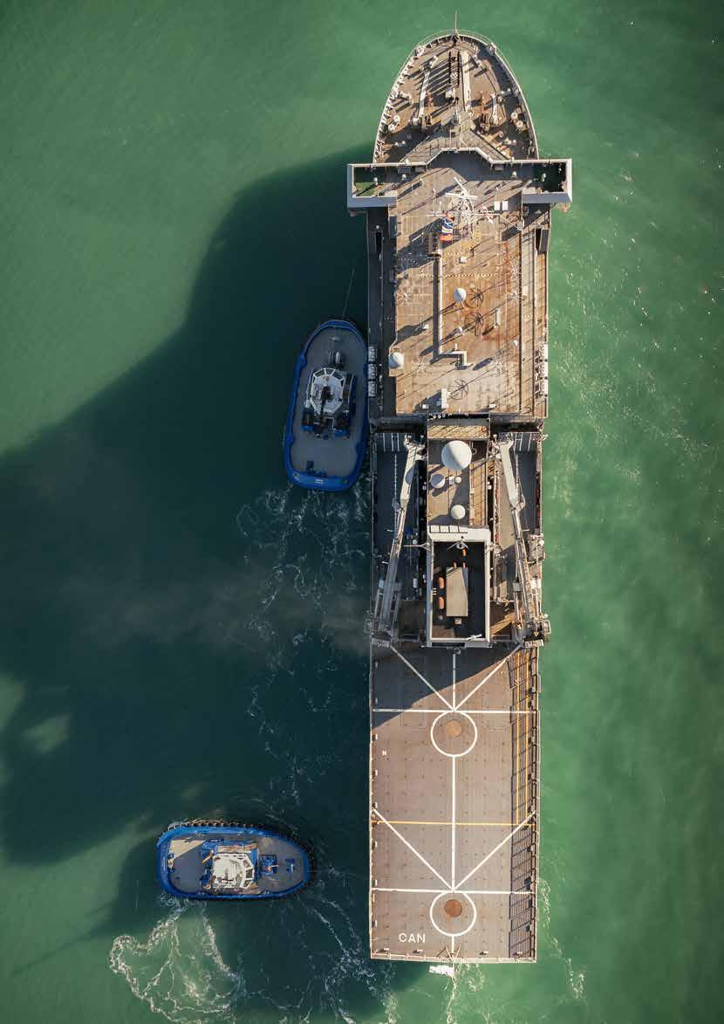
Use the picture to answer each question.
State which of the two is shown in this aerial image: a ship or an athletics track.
ship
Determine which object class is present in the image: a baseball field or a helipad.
helipad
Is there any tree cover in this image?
No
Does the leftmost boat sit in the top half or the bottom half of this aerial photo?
bottom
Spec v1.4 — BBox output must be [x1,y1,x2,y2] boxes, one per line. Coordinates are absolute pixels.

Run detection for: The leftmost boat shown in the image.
[158,815,314,901]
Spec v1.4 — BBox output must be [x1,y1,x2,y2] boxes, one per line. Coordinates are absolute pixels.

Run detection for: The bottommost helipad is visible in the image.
[372,809,534,952]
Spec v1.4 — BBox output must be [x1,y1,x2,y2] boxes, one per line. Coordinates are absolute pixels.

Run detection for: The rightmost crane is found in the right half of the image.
[489,430,557,650]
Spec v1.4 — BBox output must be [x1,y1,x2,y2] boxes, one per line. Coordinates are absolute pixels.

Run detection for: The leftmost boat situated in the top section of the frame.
[283,320,367,490]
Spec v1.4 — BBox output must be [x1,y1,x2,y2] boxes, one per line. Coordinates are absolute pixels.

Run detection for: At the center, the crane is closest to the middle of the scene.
[368,430,428,651]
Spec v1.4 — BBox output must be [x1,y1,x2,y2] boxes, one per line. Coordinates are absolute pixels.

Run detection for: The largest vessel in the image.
[346,27,573,978]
